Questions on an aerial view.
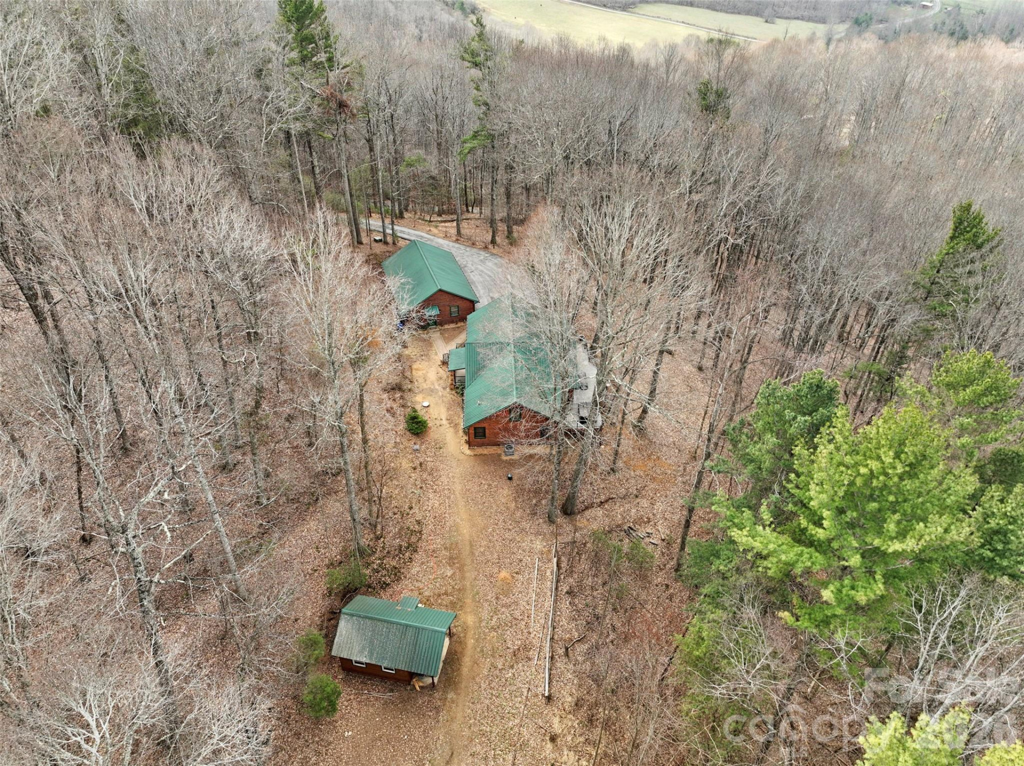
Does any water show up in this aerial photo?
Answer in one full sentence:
No, no water is visible.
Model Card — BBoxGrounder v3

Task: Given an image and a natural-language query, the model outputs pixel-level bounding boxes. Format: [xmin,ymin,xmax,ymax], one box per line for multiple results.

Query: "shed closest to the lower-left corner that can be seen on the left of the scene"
[329,590,454,689]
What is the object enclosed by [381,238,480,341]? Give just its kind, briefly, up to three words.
building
